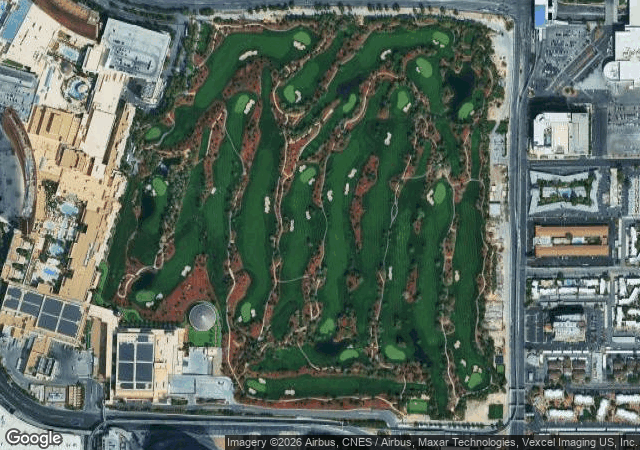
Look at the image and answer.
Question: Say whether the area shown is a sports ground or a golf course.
golf course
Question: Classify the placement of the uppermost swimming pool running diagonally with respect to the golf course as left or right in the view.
left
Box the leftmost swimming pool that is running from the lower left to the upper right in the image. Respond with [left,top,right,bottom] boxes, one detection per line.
[1,0,32,41]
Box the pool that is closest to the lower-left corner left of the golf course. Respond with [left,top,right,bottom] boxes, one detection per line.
[34,258,60,286]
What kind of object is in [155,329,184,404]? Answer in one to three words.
building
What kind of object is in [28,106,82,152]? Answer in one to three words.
building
